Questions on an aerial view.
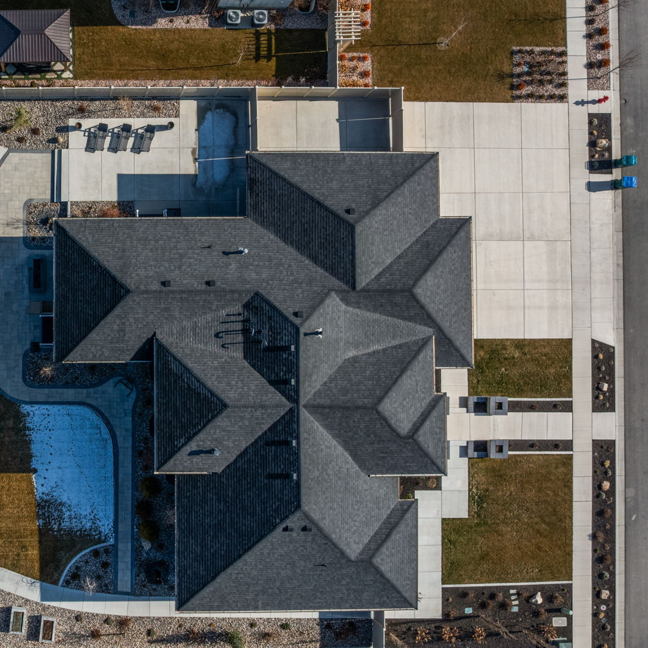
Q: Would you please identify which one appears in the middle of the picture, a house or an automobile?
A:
house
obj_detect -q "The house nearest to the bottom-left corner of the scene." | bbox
[50,149,475,614]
